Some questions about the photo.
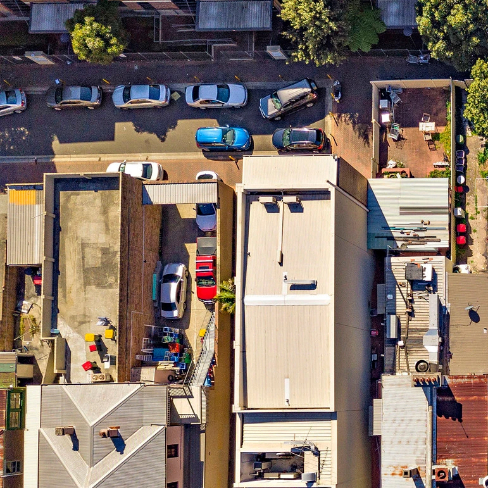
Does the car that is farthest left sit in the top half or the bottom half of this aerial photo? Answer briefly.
top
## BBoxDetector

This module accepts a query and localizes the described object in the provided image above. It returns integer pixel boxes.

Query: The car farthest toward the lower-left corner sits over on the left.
[158,261,190,319]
